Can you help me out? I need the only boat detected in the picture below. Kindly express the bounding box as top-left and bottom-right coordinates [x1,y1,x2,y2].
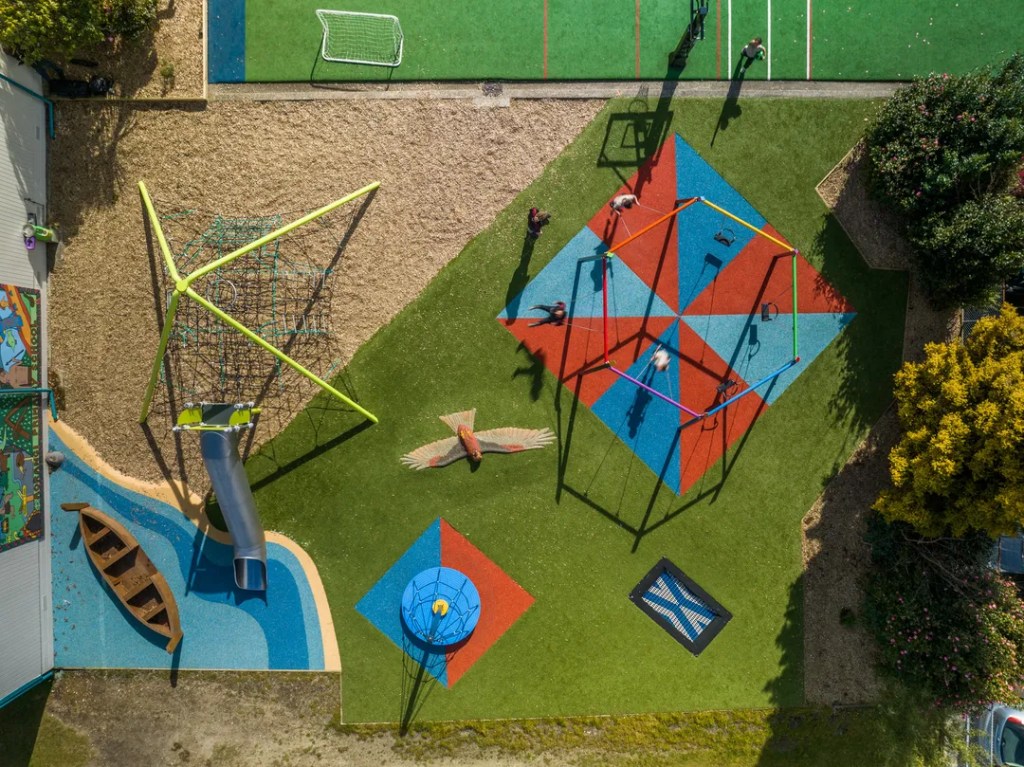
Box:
[59,500,188,653]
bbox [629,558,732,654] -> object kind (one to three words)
trampoline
